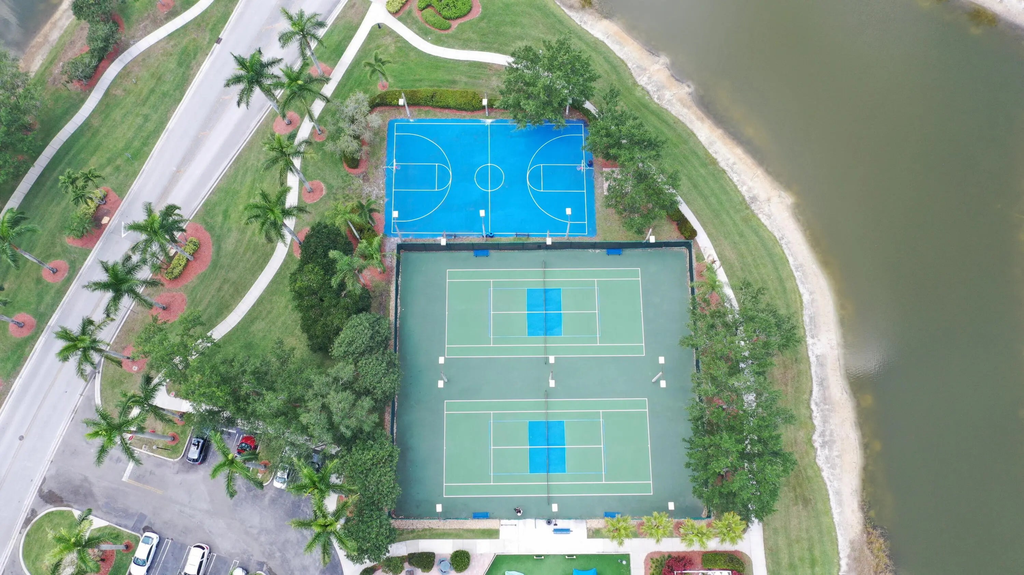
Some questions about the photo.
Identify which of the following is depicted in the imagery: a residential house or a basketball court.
basketball court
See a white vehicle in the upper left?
No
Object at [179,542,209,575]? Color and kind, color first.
white car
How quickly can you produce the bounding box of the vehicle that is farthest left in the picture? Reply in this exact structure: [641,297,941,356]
[129,531,159,575]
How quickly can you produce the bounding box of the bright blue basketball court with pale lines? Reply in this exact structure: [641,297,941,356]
[383,116,596,238]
